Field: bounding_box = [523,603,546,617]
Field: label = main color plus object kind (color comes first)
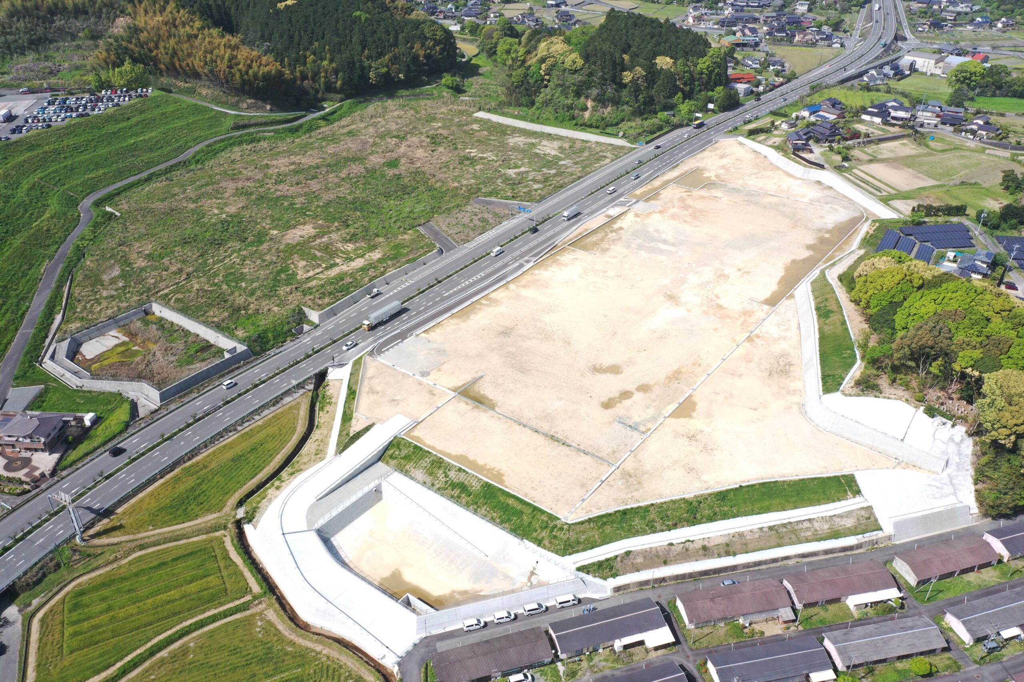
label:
white vehicle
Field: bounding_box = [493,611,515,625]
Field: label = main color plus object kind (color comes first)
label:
white vehicle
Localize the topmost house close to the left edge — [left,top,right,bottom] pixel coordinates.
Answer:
[0,409,81,455]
